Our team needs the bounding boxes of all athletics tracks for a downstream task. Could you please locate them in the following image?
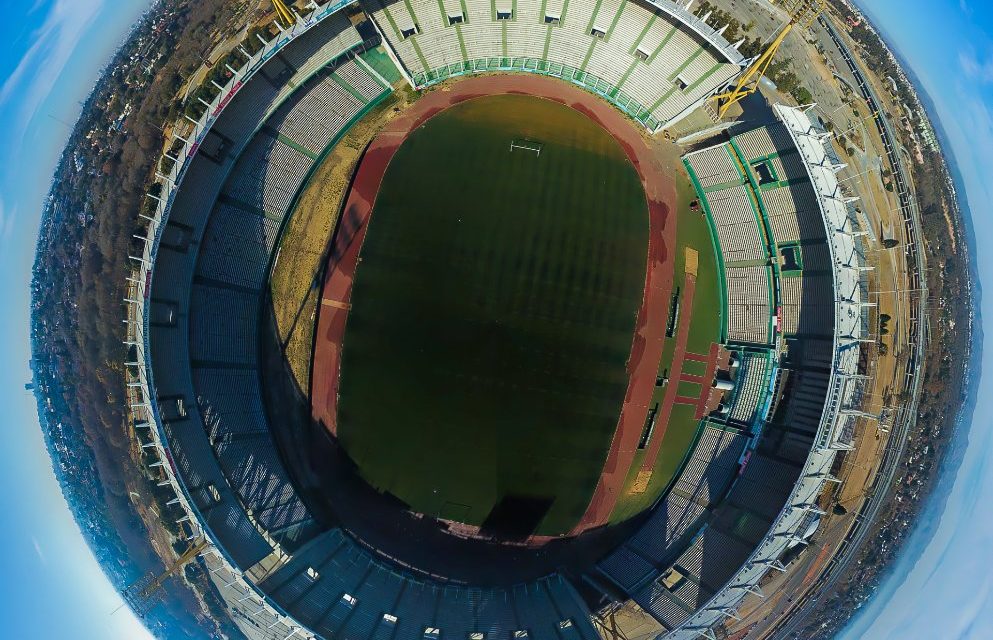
[308,73,677,571]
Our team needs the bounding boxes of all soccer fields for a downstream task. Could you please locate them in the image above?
[336,95,651,540]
